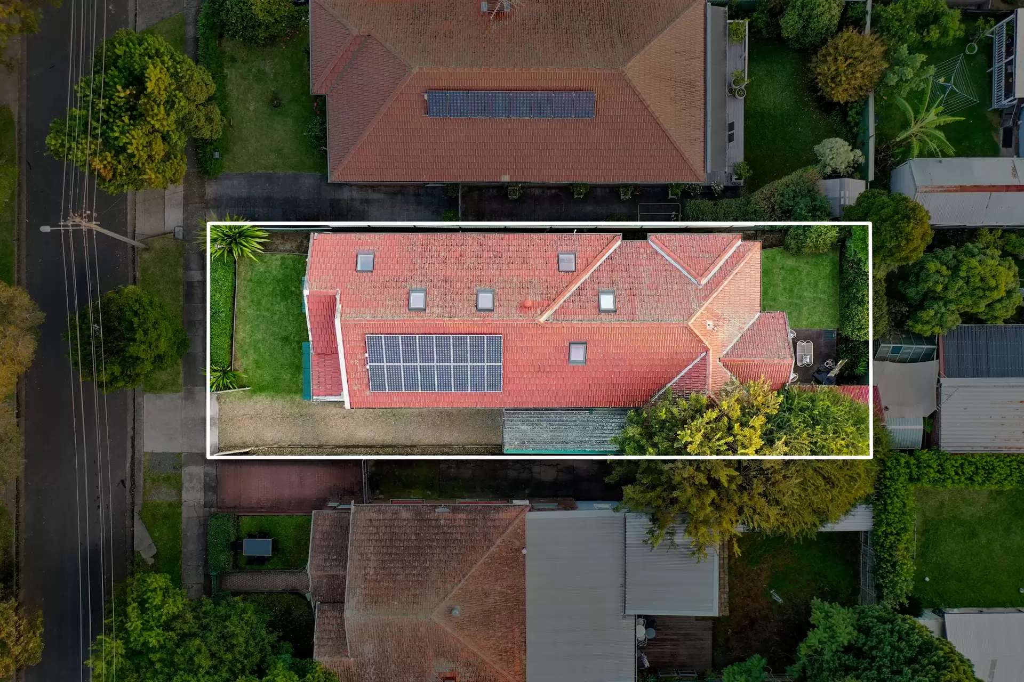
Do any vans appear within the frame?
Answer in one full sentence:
No, the frame has no van in it.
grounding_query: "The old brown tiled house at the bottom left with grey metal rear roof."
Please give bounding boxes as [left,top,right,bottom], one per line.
[305,493,718,682]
